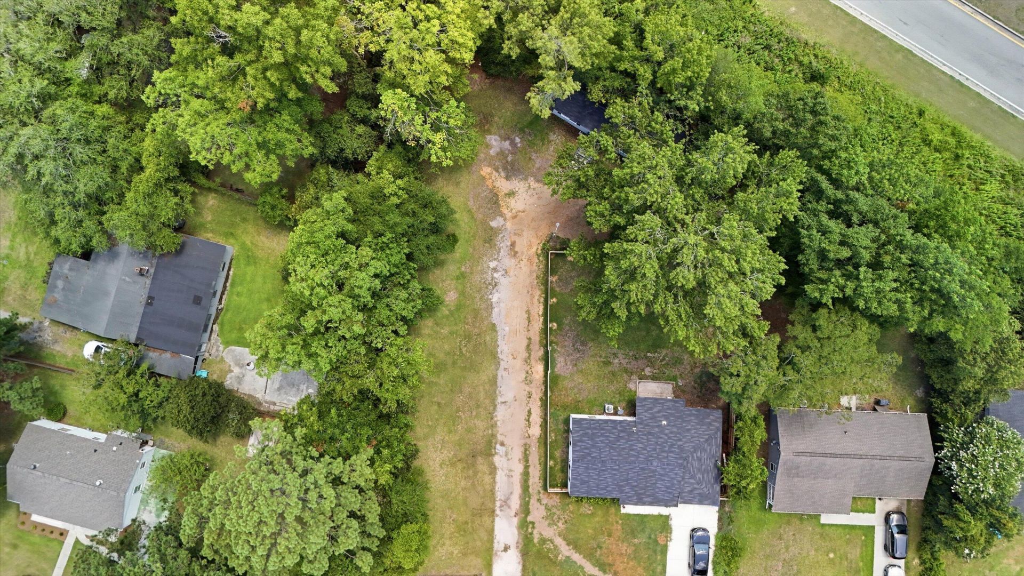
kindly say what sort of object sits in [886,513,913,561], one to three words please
car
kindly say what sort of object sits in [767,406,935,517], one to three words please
house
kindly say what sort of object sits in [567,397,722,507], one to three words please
house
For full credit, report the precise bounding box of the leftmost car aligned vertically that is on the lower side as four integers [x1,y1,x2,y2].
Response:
[691,527,715,576]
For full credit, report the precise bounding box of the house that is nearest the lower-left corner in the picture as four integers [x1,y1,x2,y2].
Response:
[6,418,157,531]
